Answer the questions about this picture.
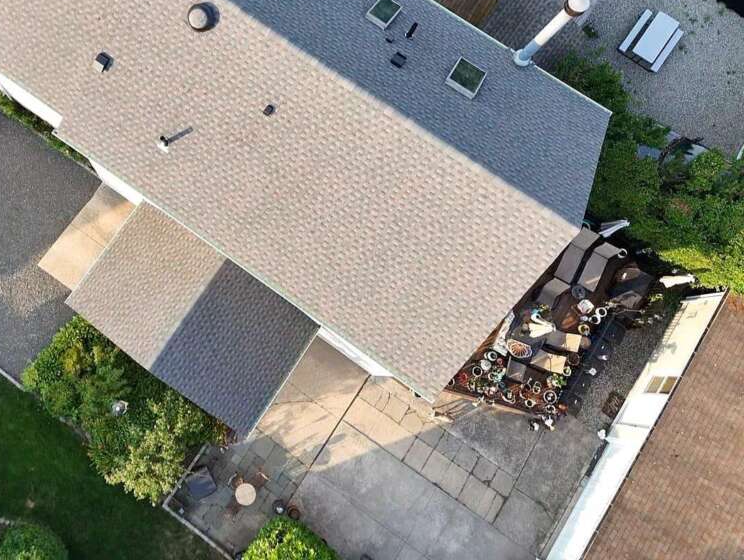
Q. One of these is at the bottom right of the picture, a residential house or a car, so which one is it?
residential house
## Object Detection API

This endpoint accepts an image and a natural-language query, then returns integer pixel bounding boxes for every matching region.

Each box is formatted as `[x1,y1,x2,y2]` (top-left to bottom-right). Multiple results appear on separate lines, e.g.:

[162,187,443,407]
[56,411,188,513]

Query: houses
[0,0,612,438]
[534,287,744,560]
